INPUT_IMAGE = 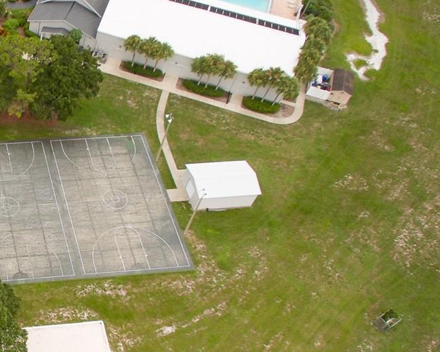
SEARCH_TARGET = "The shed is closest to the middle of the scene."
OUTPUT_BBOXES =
[180,155,261,210]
